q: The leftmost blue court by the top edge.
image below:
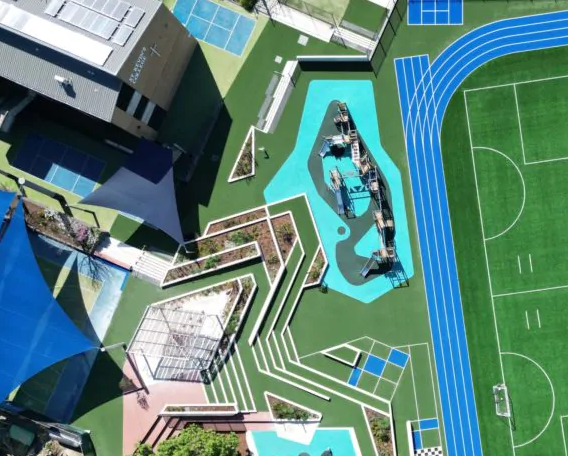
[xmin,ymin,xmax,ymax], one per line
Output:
[171,0,257,56]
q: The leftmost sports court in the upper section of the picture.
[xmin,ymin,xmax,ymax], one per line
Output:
[7,130,106,199]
